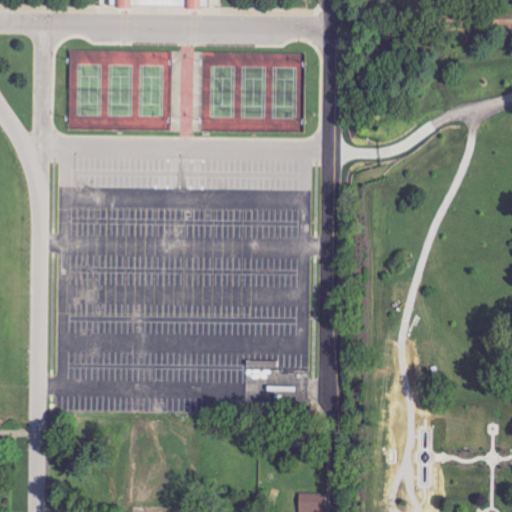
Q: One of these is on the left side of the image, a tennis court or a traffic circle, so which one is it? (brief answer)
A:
tennis court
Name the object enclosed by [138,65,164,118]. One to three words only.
tennis court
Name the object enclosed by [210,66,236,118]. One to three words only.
tennis court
